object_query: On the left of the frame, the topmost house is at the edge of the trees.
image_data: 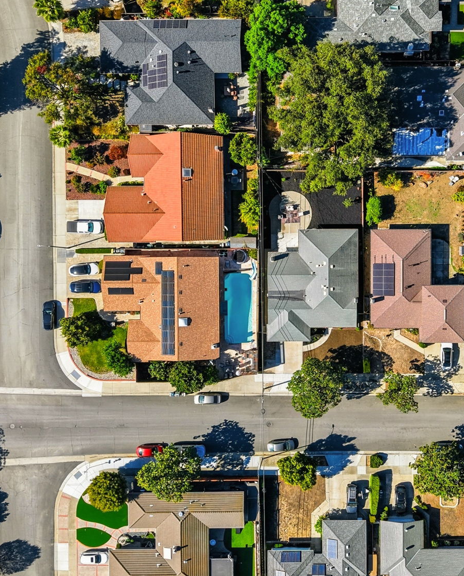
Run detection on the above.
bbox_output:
[99,20,241,126]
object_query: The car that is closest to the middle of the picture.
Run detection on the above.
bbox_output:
[194,392,221,406]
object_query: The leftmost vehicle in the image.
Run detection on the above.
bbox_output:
[41,300,57,330]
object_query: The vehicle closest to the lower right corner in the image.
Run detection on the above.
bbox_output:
[394,482,407,512]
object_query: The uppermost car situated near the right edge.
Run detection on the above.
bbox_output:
[440,343,454,370]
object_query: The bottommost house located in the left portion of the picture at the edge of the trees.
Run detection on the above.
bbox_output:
[109,490,244,576]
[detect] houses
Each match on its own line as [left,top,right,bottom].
[100,256,219,363]
[109,490,244,576]
[315,0,453,55]
[103,133,225,242]
[380,517,464,576]
[370,229,464,343]
[99,20,241,126]
[268,517,367,576]
[392,67,464,161]
[267,229,358,342]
